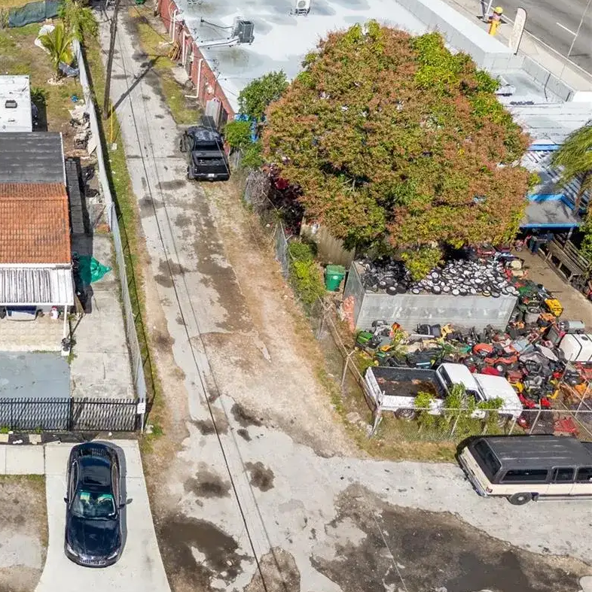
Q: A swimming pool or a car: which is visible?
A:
car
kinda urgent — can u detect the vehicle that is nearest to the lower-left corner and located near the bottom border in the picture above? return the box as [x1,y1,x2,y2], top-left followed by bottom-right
[64,451,129,568]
